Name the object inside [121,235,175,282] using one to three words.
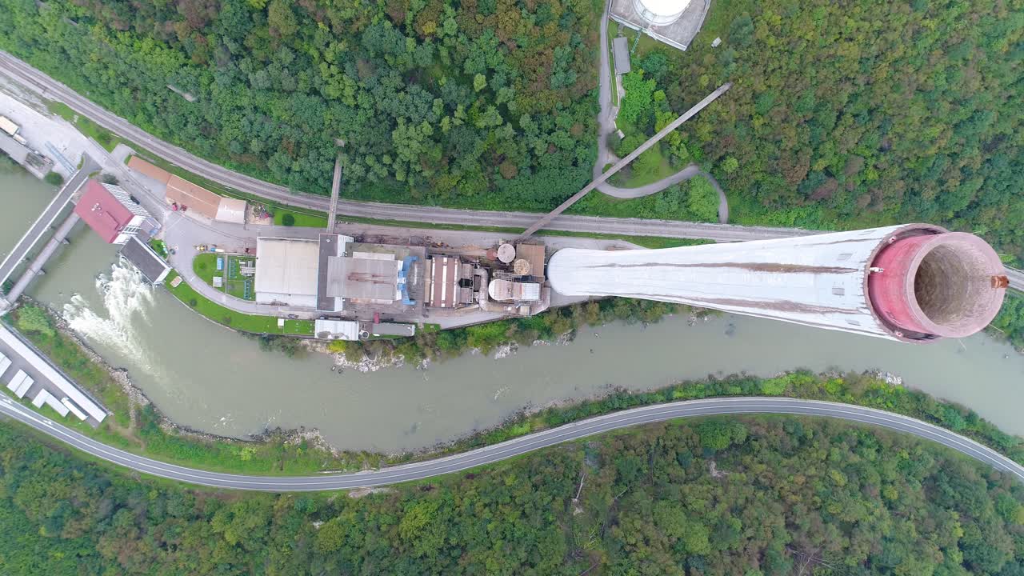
house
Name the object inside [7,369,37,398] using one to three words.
shed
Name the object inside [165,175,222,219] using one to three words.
shed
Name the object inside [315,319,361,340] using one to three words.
building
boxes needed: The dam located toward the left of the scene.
[0,210,87,320]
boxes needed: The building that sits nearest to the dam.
[75,179,147,244]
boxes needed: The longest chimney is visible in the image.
[547,223,1022,349]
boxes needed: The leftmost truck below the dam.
[63,398,91,419]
